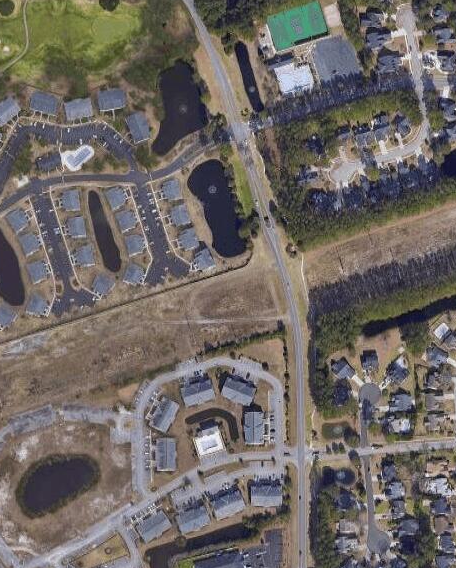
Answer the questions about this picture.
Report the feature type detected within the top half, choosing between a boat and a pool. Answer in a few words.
pool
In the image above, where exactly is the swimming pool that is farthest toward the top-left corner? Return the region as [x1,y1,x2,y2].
[62,145,94,171]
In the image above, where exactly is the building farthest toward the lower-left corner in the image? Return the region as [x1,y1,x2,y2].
[137,512,172,545]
